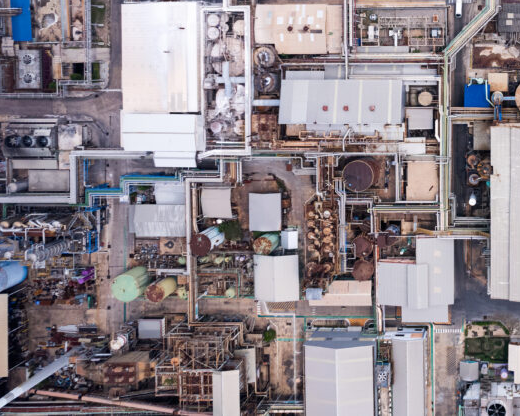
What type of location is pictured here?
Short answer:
industrial area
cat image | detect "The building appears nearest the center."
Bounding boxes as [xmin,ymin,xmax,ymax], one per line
[249,191,288,231]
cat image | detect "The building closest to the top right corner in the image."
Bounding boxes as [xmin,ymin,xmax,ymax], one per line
[498,3,520,33]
